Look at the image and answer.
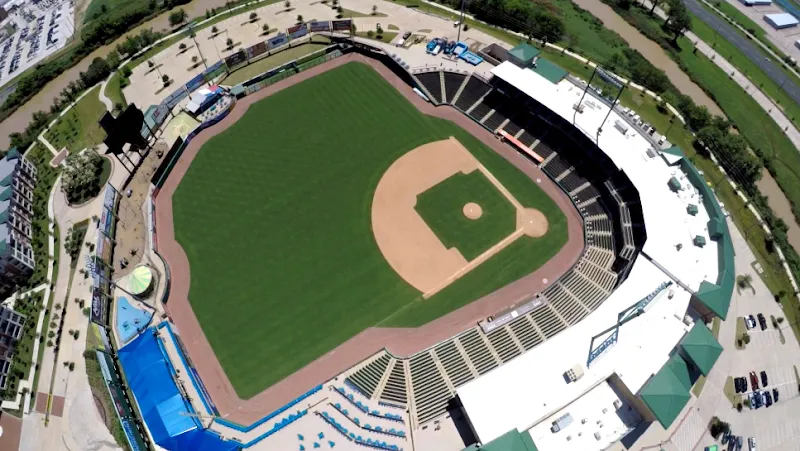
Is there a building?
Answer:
Yes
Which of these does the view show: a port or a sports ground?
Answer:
sports ground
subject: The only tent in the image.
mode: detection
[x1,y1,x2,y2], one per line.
[118,328,234,451]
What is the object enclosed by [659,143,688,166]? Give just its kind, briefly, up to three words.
building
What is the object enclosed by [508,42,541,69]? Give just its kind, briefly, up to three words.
shed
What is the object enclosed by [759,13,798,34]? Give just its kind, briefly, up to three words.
building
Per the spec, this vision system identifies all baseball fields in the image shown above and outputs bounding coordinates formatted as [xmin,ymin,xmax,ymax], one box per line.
[155,52,585,424]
